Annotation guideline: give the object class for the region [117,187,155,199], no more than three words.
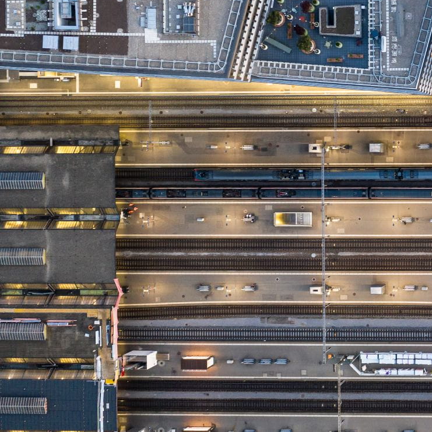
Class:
rail car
